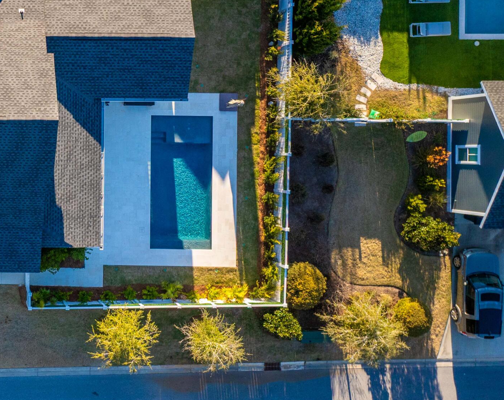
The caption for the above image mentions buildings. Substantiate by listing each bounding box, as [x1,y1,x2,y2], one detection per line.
[0,0,195,270]
[451,81,504,229]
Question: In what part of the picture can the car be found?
bottom right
